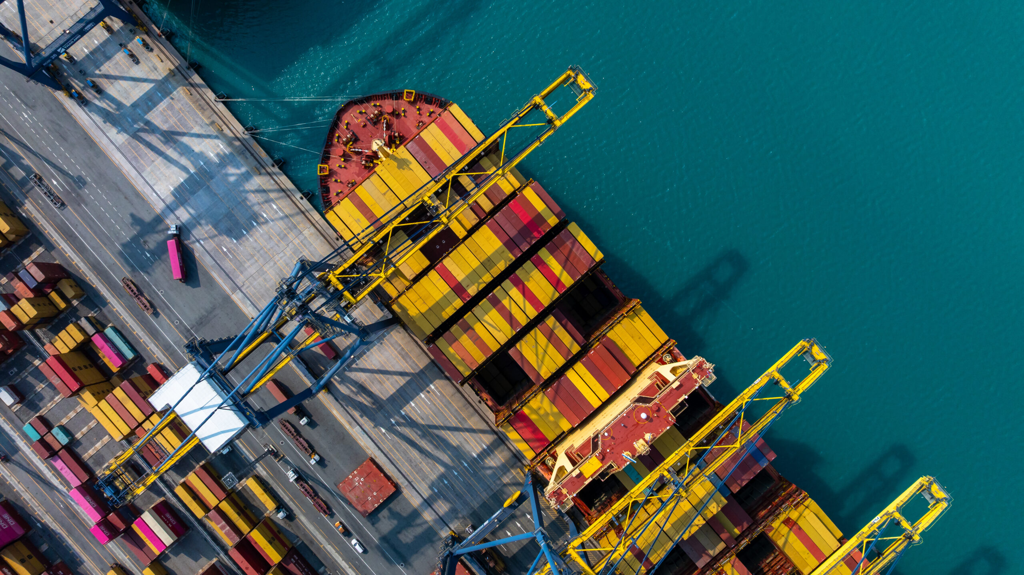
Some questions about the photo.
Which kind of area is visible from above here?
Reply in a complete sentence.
It's a port.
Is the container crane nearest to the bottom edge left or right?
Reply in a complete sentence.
The container crane nearest to the bottom edge appears in the right half of the scene.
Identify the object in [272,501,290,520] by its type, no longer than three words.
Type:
vehicle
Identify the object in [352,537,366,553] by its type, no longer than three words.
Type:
car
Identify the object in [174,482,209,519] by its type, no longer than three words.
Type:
shipping container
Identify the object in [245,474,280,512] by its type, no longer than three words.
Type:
shipping container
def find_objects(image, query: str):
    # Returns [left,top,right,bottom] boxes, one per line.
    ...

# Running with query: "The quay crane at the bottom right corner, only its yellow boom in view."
[803,472,954,575]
